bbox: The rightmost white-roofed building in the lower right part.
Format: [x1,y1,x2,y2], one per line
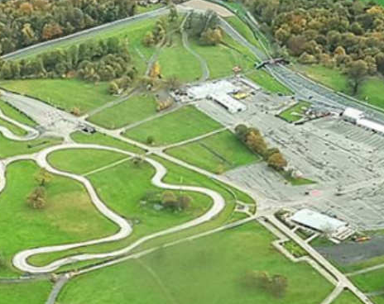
[290,210,350,240]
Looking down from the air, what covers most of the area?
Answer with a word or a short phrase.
grass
